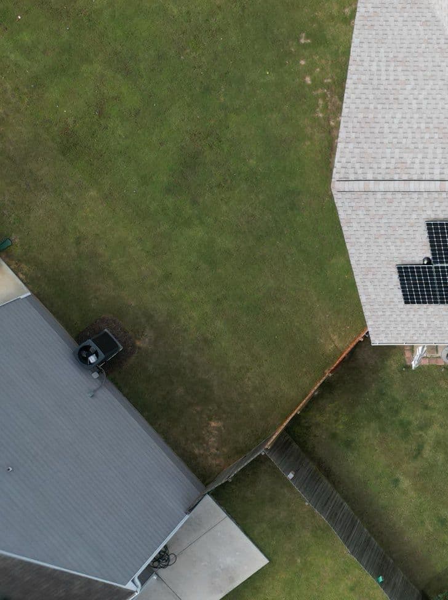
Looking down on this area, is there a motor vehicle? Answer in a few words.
No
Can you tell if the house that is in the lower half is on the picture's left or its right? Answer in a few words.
left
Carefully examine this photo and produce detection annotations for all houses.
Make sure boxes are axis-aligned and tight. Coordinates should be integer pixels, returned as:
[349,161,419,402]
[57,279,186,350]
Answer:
[331,0,448,350]
[0,293,210,600]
